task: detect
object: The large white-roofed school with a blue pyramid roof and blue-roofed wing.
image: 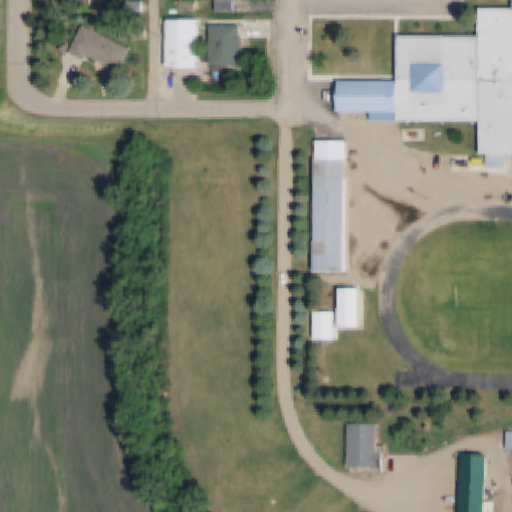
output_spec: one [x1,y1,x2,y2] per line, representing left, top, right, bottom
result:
[334,8,512,168]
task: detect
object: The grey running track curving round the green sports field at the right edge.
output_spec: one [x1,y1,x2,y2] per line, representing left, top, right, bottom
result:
[380,206,512,387]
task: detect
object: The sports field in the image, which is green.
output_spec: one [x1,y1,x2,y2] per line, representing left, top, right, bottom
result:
[396,222,512,372]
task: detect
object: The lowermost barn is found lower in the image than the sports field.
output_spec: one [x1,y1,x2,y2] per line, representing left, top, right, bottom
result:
[457,452,485,512]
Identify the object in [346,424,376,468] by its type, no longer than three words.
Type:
shed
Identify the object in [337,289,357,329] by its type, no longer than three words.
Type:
shed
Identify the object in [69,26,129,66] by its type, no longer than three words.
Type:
house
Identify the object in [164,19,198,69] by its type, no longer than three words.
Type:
building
